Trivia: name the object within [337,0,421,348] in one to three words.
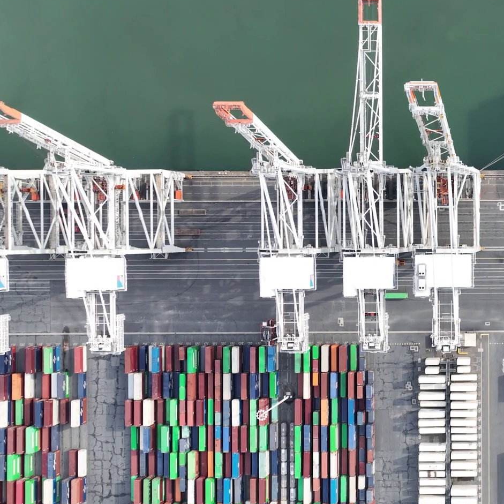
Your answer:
container crane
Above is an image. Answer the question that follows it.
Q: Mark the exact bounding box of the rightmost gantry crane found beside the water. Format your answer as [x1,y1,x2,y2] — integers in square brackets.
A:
[408,78,486,347]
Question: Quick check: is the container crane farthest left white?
Yes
